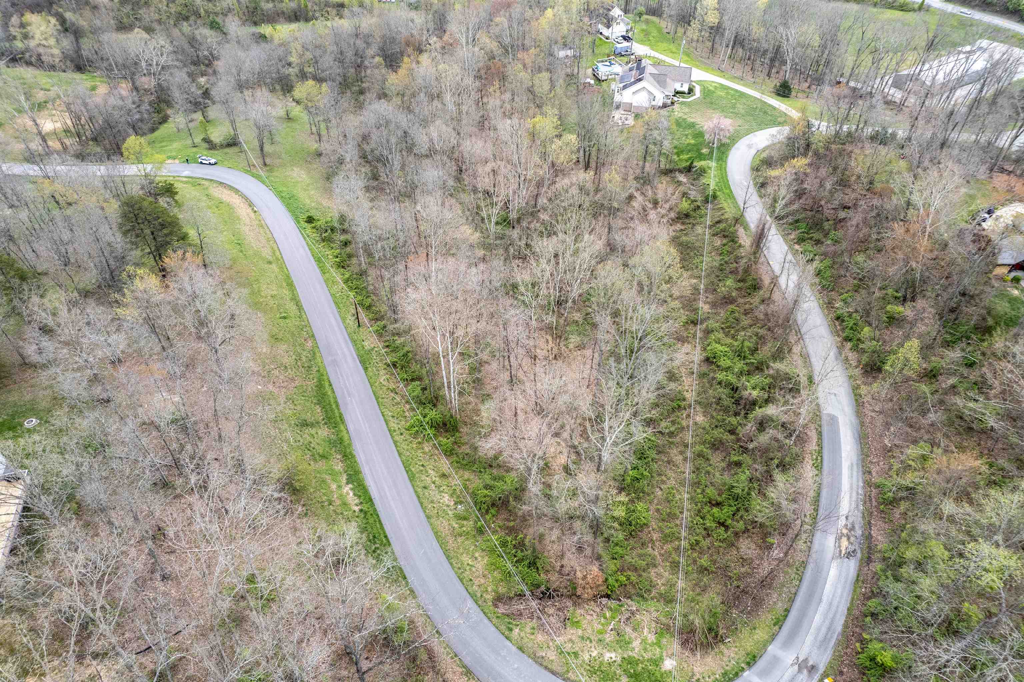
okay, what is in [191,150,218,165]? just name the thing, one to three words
car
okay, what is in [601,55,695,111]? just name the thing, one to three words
house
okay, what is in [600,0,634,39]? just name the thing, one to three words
house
